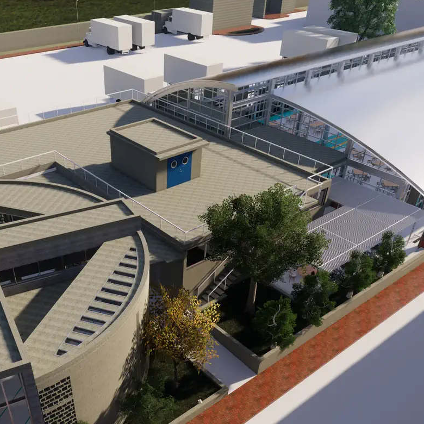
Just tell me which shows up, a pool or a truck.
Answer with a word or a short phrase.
truck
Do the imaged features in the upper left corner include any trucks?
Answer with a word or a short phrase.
Yes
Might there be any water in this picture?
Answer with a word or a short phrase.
No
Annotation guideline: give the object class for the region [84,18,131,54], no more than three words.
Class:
truck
